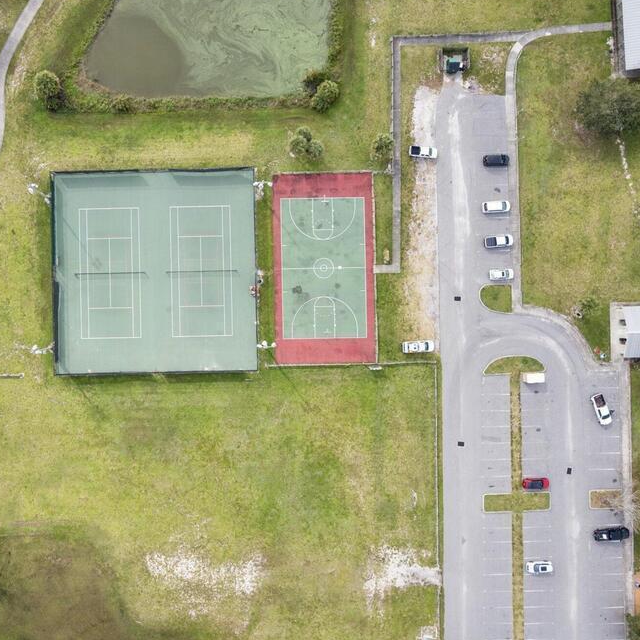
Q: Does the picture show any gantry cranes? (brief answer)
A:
No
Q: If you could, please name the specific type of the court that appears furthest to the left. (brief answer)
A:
tennis court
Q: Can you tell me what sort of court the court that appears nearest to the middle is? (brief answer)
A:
basketball court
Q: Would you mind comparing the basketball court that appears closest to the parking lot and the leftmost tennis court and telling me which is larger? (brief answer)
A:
the tennis court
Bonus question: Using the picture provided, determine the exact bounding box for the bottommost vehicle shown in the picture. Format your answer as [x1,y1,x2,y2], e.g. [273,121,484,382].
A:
[526,562,554,575]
